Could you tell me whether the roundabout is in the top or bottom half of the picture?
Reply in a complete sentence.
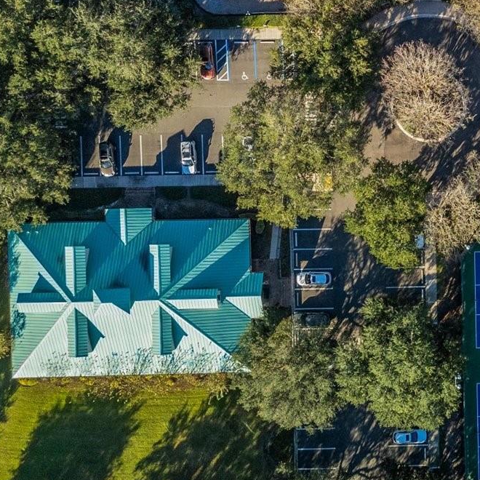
You can find the roundabout in the top half.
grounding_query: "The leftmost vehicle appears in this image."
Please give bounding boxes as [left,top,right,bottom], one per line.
[97,140,117,176]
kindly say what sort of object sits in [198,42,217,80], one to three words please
car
